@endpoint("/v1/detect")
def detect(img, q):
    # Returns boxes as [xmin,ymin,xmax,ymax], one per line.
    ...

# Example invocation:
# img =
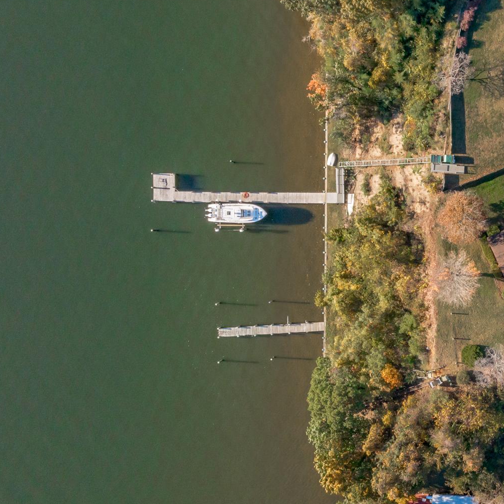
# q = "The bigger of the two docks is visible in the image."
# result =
[151,167,345,204]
